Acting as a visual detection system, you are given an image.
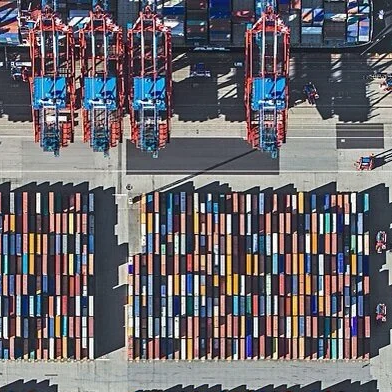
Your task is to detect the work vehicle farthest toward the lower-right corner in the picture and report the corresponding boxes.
[375,303,389,324]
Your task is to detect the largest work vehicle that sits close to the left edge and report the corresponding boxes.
[13,64,27,89]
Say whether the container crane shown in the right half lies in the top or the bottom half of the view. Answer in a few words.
top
